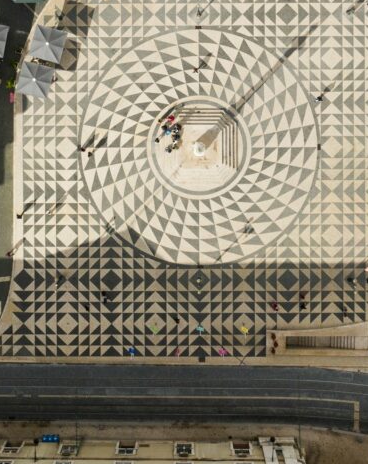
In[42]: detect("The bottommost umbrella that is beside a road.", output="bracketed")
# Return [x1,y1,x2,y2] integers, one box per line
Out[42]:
[15,60,54,99]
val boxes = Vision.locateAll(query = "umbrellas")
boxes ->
[28,25,67,63]
[0,25,9,57]
[15,60,54,99]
